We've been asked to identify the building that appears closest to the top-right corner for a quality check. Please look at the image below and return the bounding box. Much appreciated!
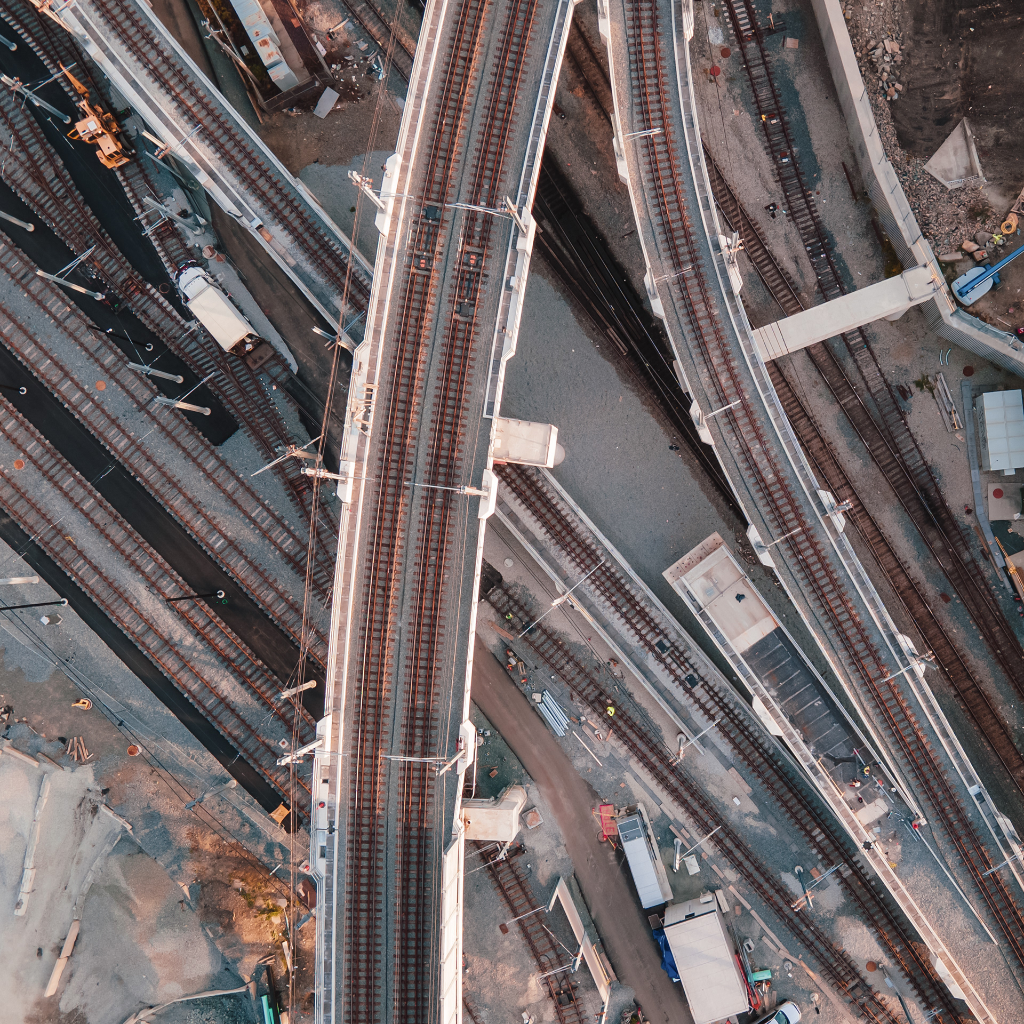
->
[971,389,1024,476]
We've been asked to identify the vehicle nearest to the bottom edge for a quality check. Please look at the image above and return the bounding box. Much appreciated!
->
[747,1002,798,1024]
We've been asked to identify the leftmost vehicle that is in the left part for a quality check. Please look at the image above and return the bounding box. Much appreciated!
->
[176,260,274,369]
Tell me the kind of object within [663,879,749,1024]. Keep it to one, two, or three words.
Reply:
building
